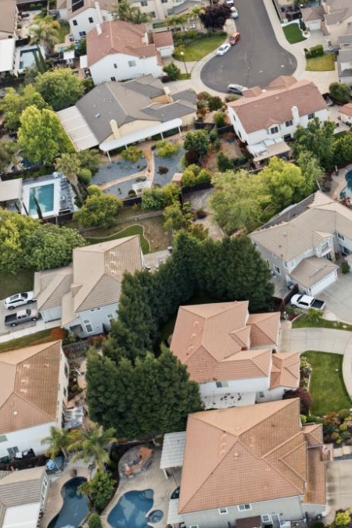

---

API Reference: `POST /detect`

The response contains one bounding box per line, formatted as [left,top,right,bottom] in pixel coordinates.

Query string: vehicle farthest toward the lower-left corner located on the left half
[0,308,34,328]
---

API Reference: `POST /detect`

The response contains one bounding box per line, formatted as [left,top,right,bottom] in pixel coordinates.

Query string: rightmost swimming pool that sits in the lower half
[147,506,167,526]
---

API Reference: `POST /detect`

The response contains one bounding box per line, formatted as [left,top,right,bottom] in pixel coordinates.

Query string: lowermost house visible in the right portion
[162,397,327,528]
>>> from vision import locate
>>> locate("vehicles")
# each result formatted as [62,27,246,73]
[227,81,250,95]
[230,8,240,18]
[228,34,241,45]
[289,292,327,312]
[3,292,31,309]
[214,44,233,55]
[0,308,34,328]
